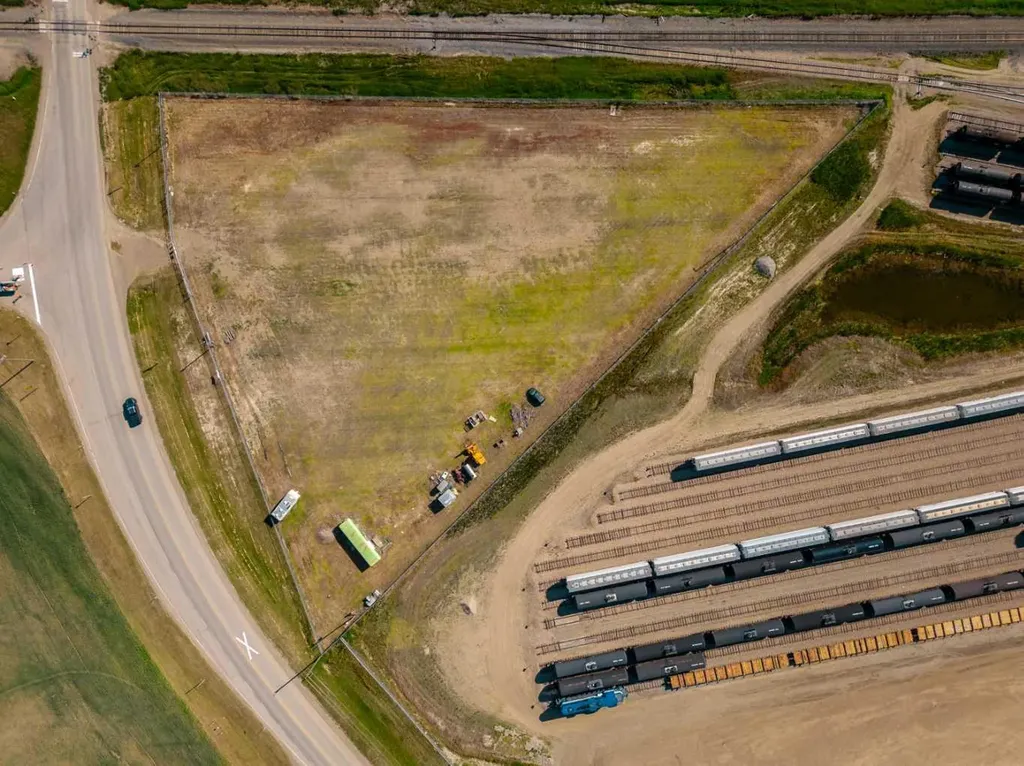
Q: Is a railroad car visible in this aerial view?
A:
Yes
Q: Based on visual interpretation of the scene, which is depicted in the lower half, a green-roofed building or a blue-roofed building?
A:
green-roofed building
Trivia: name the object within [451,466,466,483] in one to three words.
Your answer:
work vehicle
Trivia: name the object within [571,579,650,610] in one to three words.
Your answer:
rail car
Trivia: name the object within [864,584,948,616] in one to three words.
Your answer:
rail car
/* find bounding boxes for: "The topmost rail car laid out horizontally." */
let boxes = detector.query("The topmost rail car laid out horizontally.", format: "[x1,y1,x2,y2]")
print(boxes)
[957,123,1024,150]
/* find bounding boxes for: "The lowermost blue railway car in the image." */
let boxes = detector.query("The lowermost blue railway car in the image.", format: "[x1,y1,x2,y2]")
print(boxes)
[557,685,626,714]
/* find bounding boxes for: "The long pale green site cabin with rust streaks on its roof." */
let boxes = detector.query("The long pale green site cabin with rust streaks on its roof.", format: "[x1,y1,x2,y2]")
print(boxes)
[339,516,383,566]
